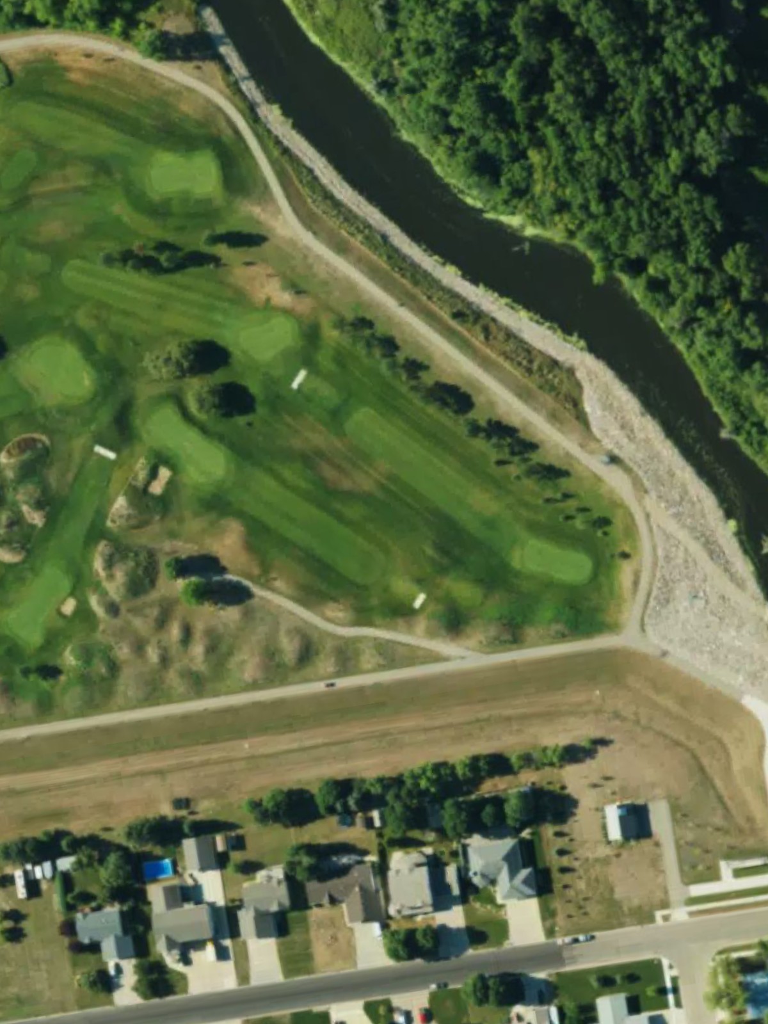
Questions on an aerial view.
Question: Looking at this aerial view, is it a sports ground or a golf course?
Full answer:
The picture captures a golf course.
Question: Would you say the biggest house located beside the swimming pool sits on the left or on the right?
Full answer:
It is on the left.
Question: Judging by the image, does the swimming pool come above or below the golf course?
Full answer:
As seen from overhead, the swimming pool falls below the golf course in the picture.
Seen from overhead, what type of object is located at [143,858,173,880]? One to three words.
swimming pool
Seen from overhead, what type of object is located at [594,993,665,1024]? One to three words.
house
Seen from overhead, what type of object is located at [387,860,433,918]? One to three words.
house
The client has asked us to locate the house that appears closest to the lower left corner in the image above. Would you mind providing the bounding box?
[76,910,135,963]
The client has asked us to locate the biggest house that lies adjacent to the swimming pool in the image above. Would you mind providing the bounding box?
[146,881,215,955]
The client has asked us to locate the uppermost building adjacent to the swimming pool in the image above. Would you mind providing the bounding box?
[182,836,219,873]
